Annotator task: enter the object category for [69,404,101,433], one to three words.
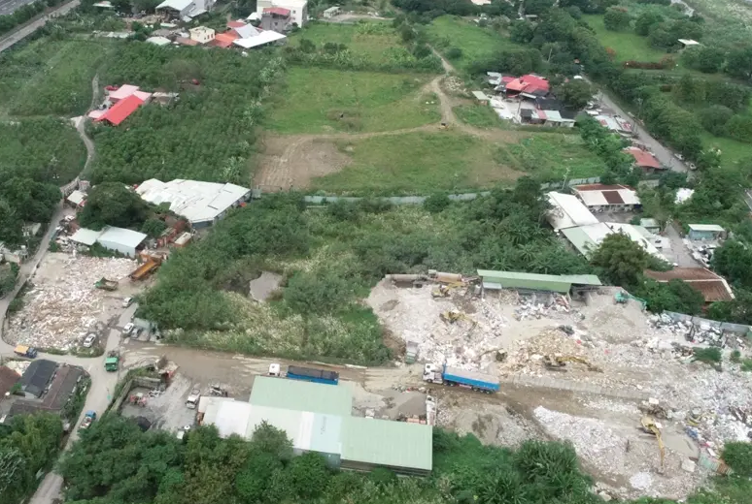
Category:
truck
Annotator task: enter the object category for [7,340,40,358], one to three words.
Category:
vehicle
